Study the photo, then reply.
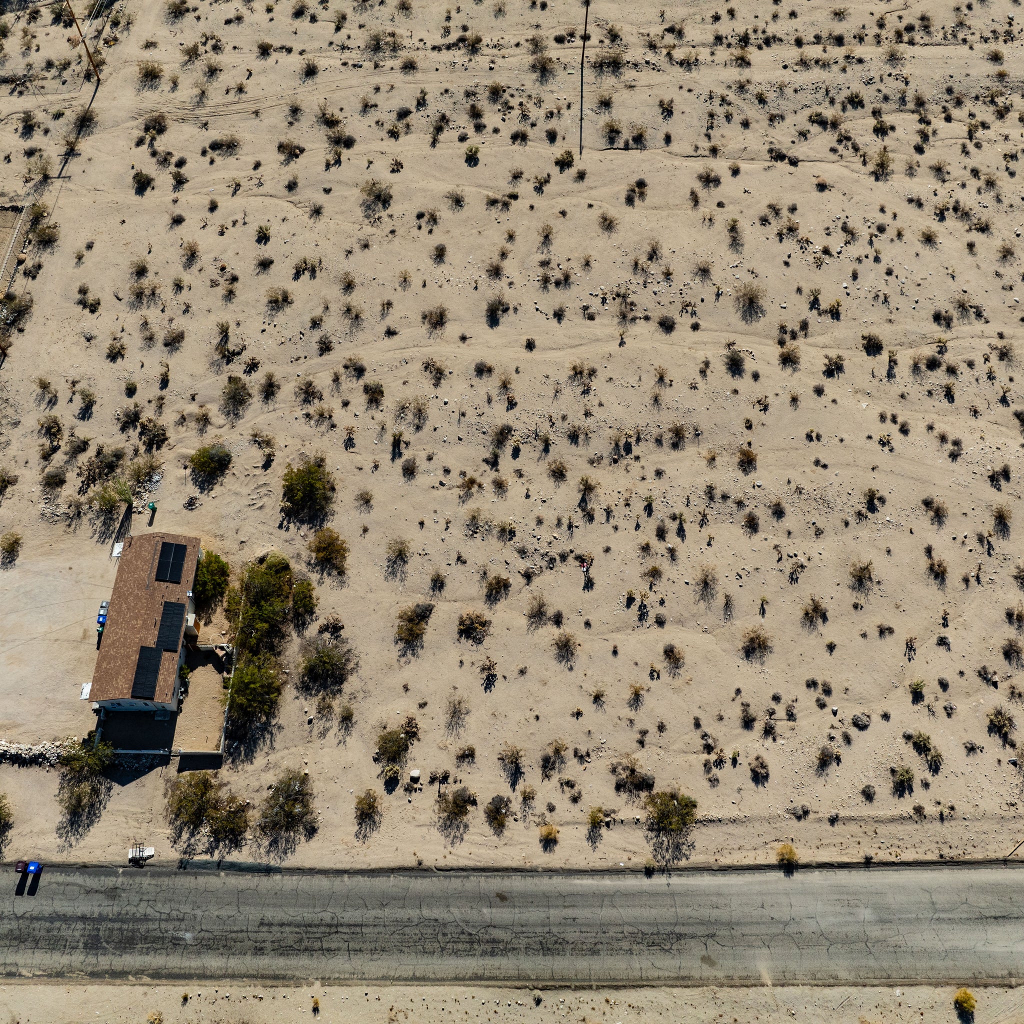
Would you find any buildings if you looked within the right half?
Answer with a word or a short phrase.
No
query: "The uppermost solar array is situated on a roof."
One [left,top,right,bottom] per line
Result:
[154,543,189,584]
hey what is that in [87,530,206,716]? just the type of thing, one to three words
house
